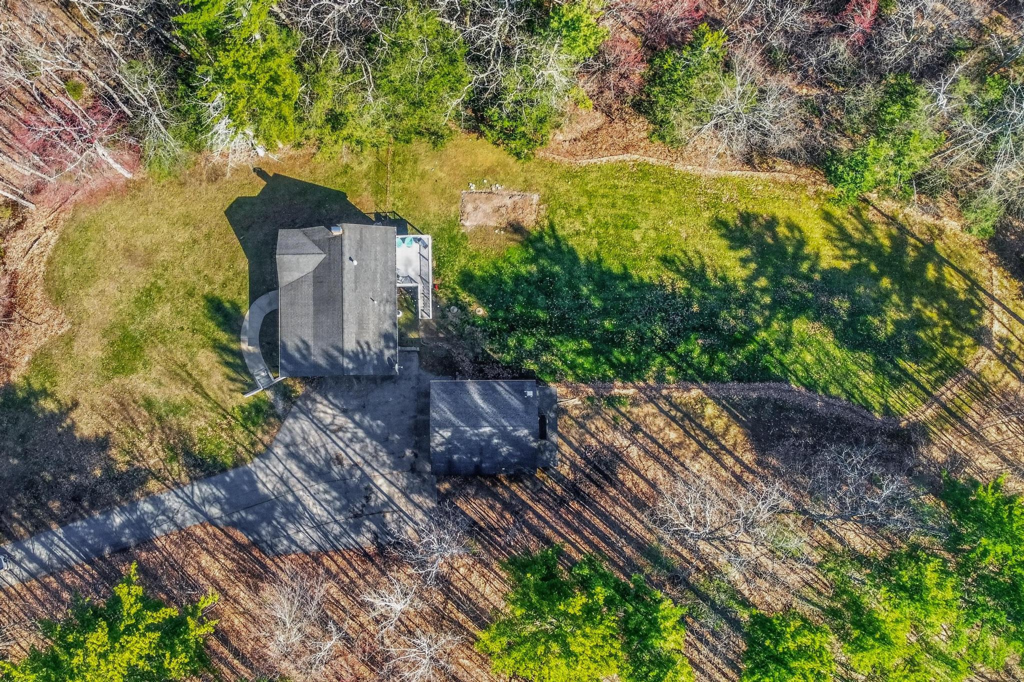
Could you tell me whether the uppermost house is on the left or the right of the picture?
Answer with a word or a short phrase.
left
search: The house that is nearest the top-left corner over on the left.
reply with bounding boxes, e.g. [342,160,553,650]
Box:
[271,220,399,378]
